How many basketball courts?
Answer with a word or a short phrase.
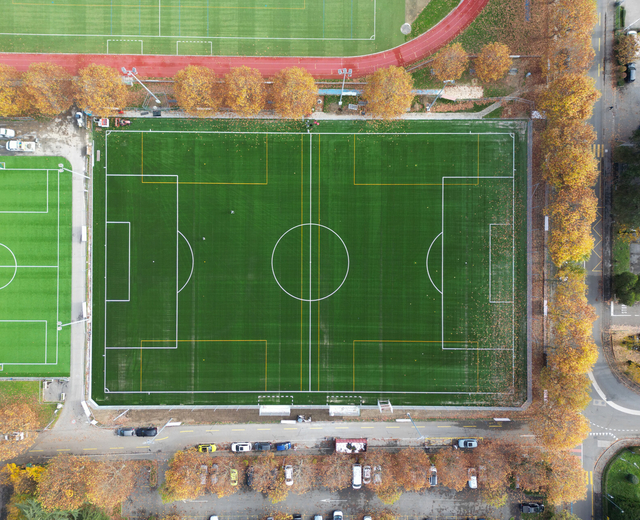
none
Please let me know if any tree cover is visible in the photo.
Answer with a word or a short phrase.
Yes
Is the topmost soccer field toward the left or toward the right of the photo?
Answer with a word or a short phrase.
left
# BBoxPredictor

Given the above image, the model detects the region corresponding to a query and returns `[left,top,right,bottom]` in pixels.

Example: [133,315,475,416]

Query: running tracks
[0,0,487,79]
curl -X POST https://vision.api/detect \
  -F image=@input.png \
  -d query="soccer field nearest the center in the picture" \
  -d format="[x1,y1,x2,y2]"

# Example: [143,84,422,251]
[91,118,531,409]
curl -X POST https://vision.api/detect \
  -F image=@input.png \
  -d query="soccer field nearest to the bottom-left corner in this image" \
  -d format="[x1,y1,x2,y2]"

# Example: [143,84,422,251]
[0,156,71,380]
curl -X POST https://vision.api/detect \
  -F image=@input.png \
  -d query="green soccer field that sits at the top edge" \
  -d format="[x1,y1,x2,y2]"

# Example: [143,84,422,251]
[0,0,406,57]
